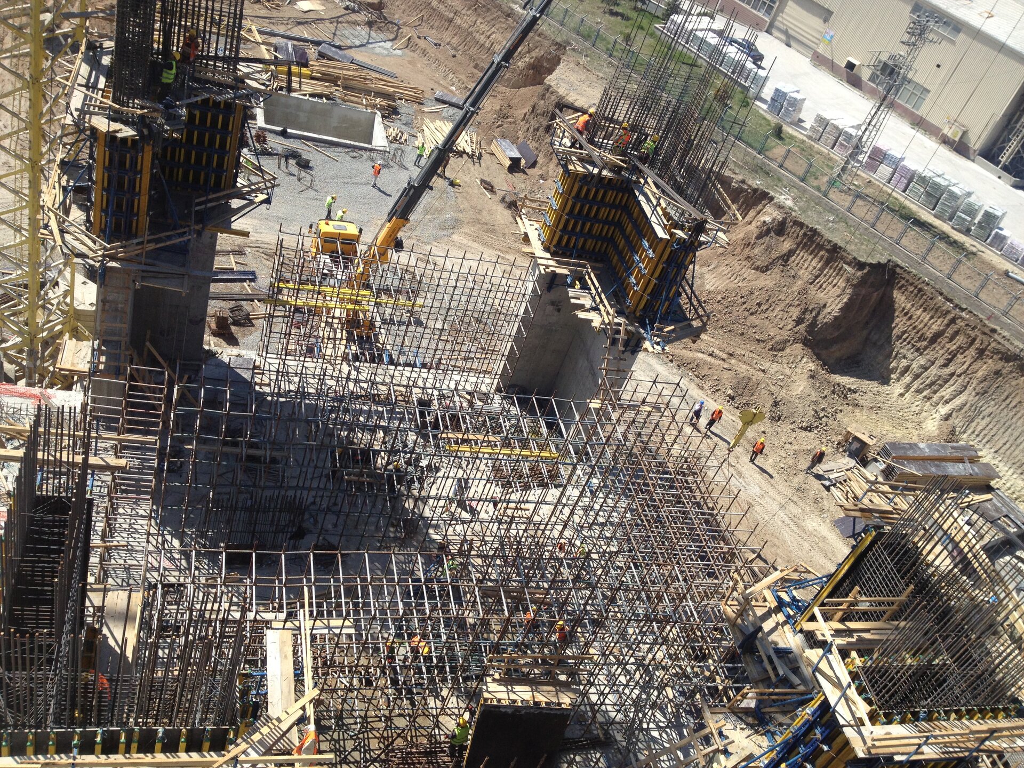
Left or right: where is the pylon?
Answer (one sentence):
The pylon sits on the right side.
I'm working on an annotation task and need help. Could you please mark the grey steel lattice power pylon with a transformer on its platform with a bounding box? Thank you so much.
[824,0,955,183]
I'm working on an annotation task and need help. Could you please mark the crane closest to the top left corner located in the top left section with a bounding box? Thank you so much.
[0,0,91,372]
